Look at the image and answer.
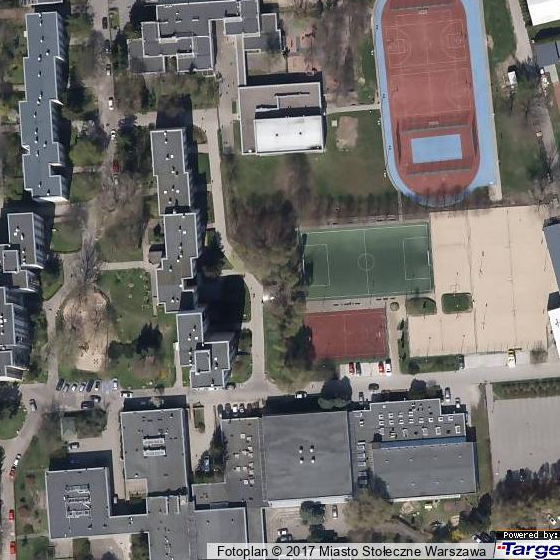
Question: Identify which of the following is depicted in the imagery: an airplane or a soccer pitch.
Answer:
soccer pitch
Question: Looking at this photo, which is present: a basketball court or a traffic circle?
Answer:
basketball court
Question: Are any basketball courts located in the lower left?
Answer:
No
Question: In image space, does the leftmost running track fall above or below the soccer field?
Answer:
above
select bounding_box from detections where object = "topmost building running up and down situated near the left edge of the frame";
[19,12,69,202]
